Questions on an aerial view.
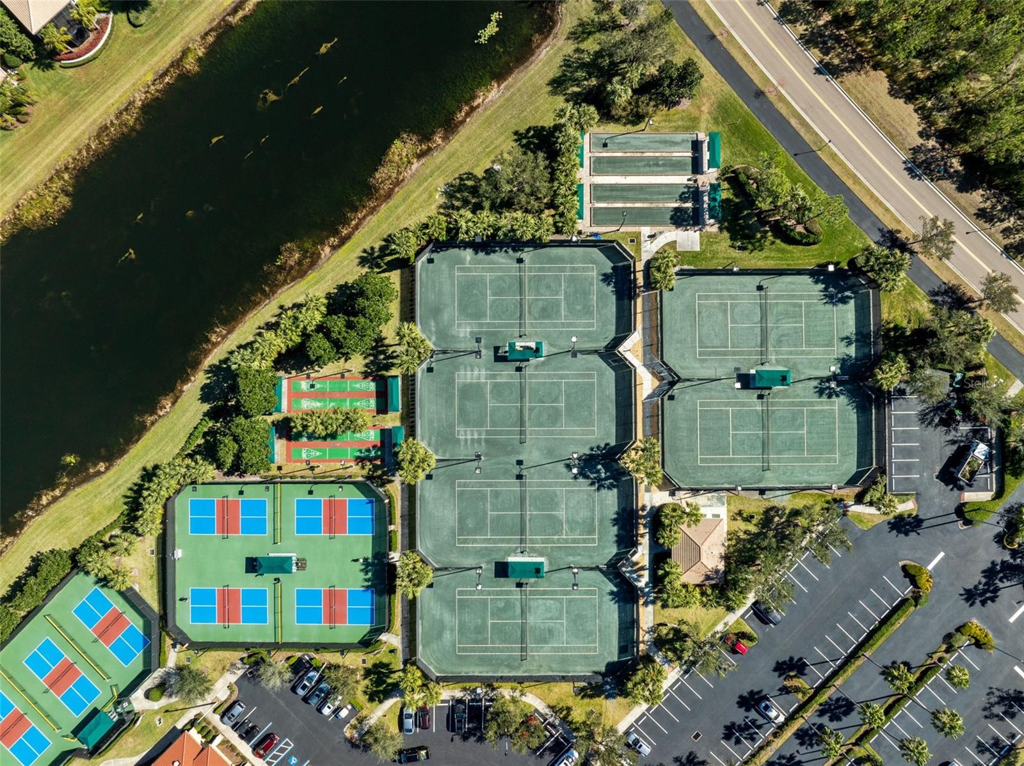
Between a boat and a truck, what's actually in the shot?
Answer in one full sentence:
The image shows a truck.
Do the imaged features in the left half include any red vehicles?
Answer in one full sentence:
Yes, a red vehicle can be seen in the left half.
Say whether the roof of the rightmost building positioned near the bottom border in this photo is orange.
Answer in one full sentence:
Yes, the roof of the rightmost building positioned near the bottom border is indeed orange.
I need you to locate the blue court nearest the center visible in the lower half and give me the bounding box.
[295,496,374,539]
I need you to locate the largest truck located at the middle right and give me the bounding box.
[952,440,988,484]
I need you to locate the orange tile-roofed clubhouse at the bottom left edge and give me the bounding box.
[155,730,238,766]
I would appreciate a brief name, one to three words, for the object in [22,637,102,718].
sports court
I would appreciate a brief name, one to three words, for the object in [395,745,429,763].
vehicle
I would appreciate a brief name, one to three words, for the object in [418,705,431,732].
vehicle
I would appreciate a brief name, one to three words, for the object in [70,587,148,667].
sports court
